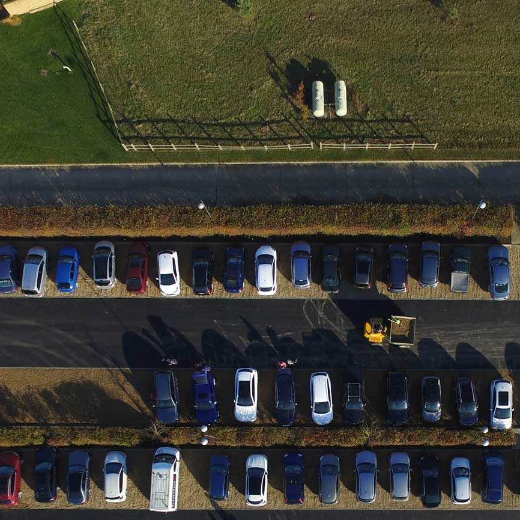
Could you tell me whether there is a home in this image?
No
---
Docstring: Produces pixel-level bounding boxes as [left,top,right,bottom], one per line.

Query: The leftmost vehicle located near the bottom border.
[0,452,26,507]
